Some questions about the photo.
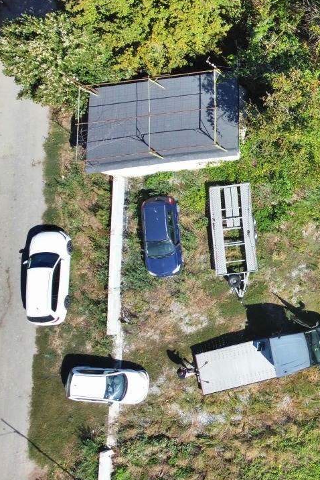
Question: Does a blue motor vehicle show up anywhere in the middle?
Yes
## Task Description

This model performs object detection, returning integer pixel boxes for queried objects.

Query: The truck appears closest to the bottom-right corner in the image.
[196,312,320,396]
